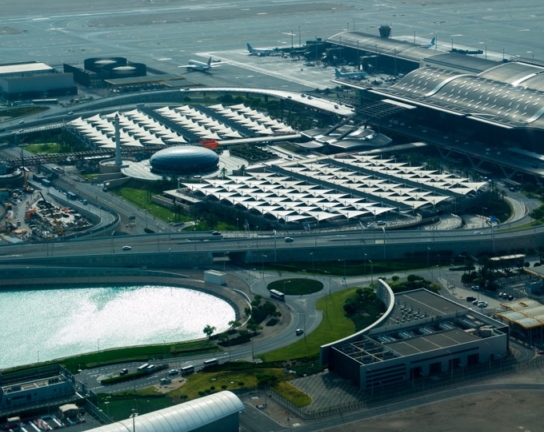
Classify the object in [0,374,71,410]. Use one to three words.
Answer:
building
